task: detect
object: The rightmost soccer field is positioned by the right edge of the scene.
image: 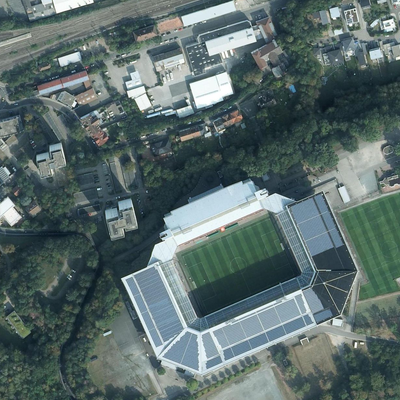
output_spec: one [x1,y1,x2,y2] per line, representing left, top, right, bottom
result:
[340,190,400,299]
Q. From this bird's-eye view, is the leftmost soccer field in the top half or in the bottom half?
bottom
